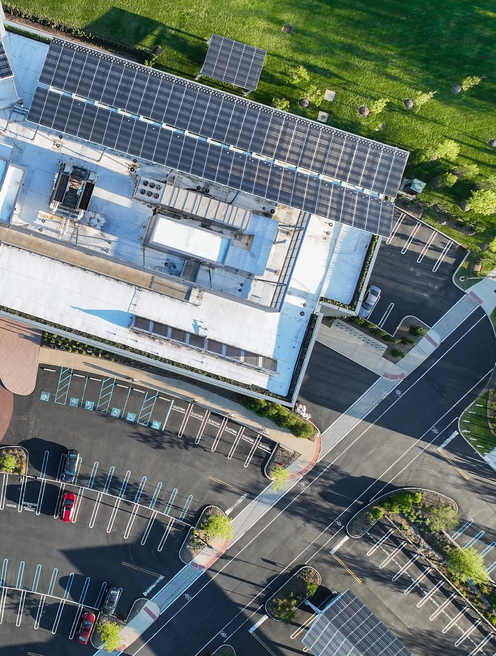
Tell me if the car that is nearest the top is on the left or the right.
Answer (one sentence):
The car that is nearest the top is on the right side of the image.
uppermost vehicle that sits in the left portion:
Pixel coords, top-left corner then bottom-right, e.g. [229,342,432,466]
[61,448,79,483]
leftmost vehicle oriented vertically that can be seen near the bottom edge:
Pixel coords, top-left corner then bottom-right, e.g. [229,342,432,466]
[76,611,95,645]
